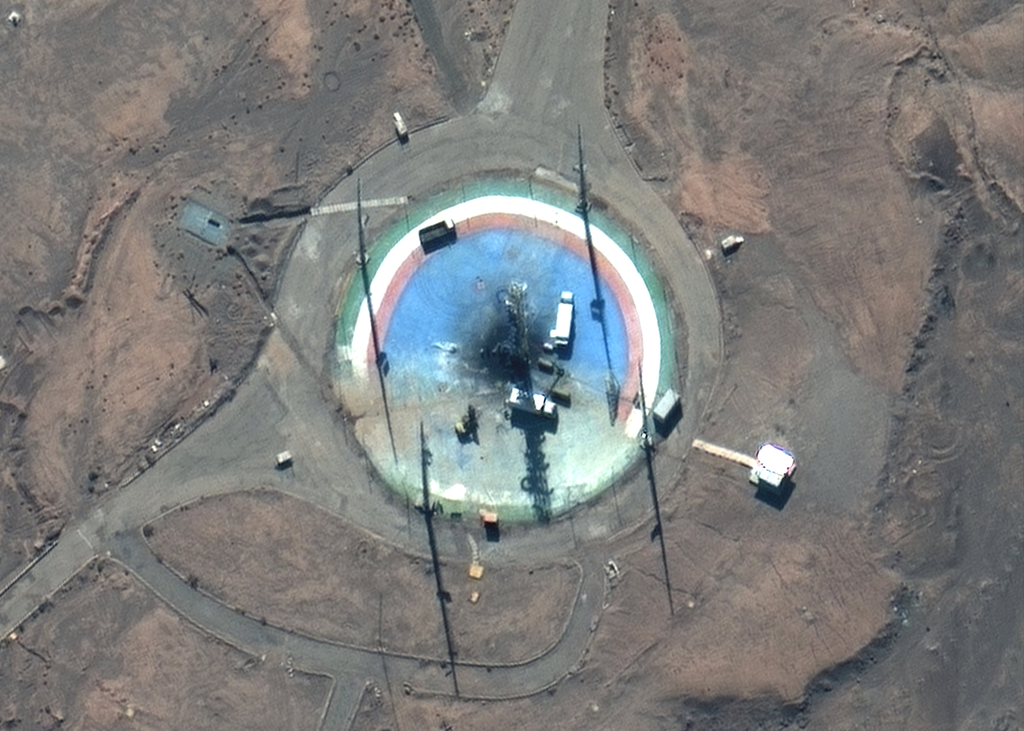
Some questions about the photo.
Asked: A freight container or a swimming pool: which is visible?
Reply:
freight container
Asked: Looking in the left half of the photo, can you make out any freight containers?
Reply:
No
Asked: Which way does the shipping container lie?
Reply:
at an angle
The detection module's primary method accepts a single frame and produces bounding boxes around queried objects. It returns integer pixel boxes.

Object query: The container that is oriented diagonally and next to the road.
[651,391,678,423]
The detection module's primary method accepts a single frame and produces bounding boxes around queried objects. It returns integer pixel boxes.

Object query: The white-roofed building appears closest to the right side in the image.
[747,442,798,491]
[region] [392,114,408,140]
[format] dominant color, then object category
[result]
white vehicle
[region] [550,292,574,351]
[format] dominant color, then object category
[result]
white truck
